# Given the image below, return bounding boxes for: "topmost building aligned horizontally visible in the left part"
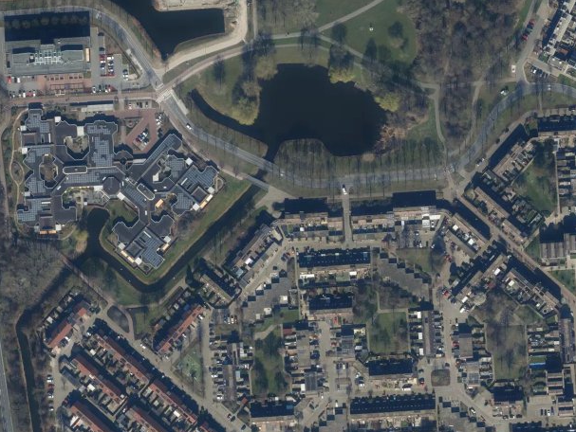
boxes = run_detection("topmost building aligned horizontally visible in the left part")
[2,37,90,75]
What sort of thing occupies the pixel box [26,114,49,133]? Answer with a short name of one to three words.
solar array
